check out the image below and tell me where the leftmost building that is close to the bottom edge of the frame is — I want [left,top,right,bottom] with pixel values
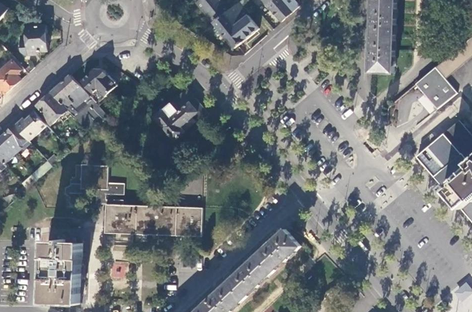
[34,241,84,306]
